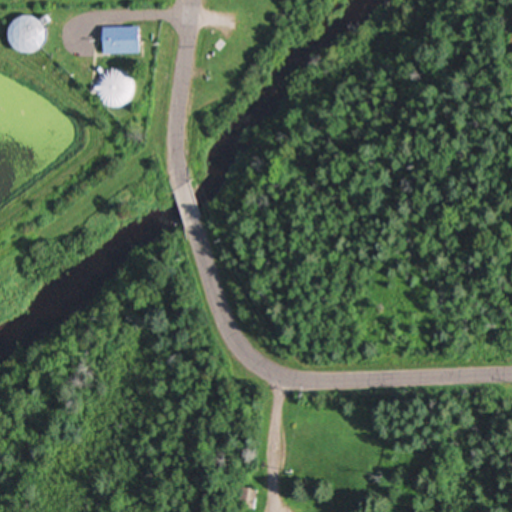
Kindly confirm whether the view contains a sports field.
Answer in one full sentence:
No, there's no sports field here.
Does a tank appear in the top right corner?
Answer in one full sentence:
No, no tank appears in the top right corner.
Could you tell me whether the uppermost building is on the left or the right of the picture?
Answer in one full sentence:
You can find the uppermost building on the left side of the picture.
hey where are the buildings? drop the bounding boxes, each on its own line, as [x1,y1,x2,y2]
[240,488,256,510]
[100,24,142,53]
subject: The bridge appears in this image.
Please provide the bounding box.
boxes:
[174,181,204,240]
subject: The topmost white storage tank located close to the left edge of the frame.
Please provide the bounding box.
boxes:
[6,14,50,53]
